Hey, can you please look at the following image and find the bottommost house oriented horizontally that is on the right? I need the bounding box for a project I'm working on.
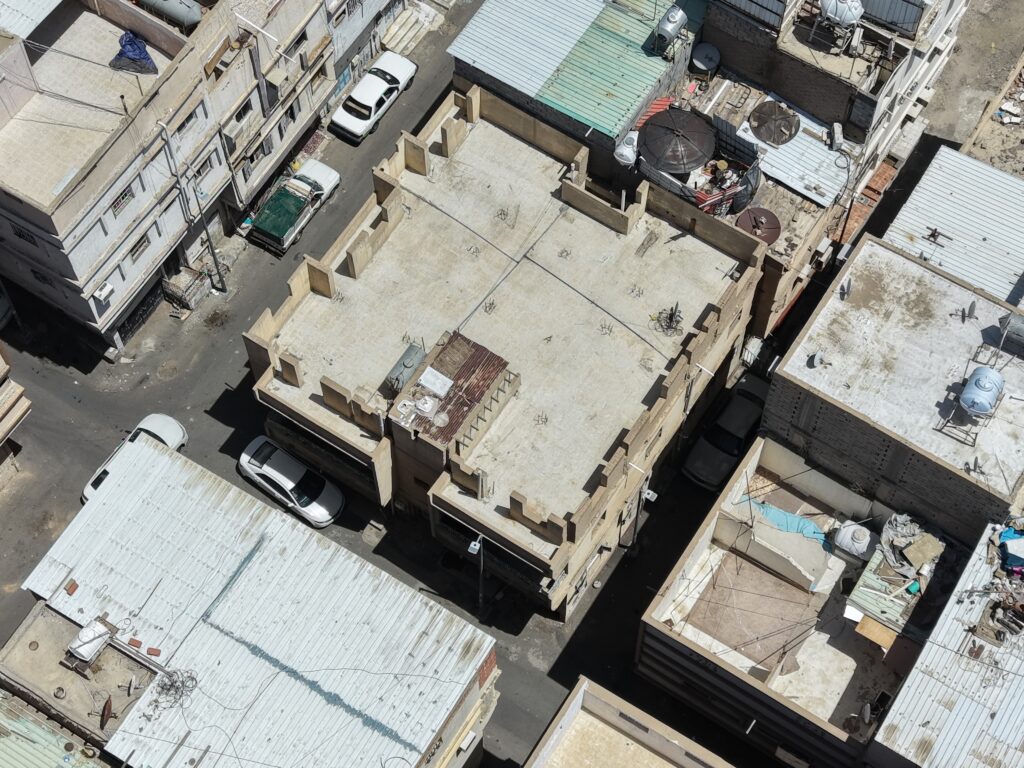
[521,679,726,768]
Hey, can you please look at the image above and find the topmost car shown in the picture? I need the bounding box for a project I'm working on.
[328,50,421,147]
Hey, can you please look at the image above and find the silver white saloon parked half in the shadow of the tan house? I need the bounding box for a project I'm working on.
[231,443,343,537]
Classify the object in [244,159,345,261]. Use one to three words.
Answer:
vehicle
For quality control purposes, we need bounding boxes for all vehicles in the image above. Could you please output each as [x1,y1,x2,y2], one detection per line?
[328,50,421,147]
[231,443,343,537]
[683,376,776,492]
[86,420,184,508]
[244,159,345,261]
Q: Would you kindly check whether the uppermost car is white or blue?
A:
white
